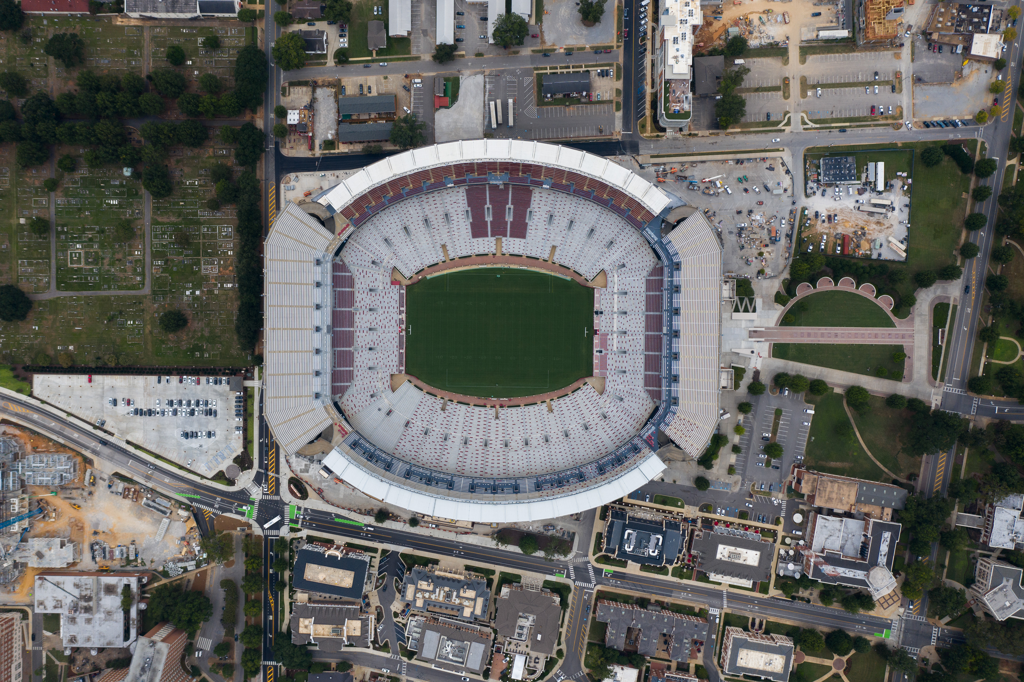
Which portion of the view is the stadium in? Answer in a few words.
center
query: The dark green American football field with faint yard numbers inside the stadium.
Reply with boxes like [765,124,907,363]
[405,266,594,398]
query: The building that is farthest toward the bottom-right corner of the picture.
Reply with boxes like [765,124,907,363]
[971,559,1024,622]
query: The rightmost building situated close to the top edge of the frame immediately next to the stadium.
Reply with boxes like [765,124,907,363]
[658,0,701,128]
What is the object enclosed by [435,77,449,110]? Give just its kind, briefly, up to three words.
house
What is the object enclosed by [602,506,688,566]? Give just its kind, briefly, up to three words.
building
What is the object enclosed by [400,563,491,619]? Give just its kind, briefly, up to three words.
building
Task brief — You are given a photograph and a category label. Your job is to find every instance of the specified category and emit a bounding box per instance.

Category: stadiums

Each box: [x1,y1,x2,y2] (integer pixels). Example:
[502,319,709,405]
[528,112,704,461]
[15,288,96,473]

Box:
[258,138,725,524]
